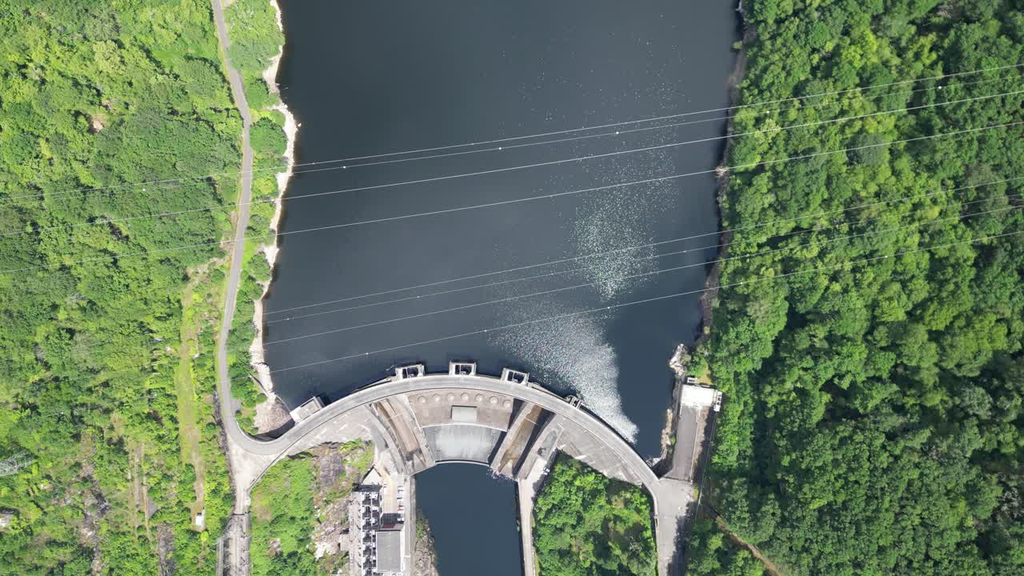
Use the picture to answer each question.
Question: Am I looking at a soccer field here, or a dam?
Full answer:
The one in the frame is a dam.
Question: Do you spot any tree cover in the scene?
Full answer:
Yes, the picture does contain tree cover.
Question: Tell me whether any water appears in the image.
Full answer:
Yes, the picture does contain water.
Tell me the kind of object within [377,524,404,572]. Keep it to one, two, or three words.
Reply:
building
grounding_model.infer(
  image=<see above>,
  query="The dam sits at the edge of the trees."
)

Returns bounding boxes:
[256,363,658,492]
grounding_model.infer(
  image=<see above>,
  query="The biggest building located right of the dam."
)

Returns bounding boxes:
[678,383,714,408]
